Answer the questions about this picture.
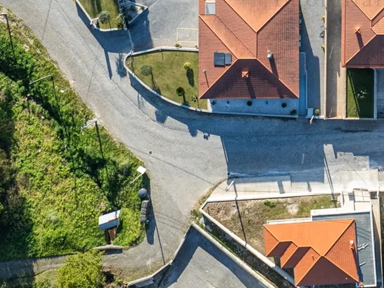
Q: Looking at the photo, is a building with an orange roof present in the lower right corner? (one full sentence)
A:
Yes, the scene does show a building with an orange roof in the lower right corner.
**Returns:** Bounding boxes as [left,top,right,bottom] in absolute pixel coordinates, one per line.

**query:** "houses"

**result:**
[263,207,377,287]
[199,0,301,99]
[343,0,384,67]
